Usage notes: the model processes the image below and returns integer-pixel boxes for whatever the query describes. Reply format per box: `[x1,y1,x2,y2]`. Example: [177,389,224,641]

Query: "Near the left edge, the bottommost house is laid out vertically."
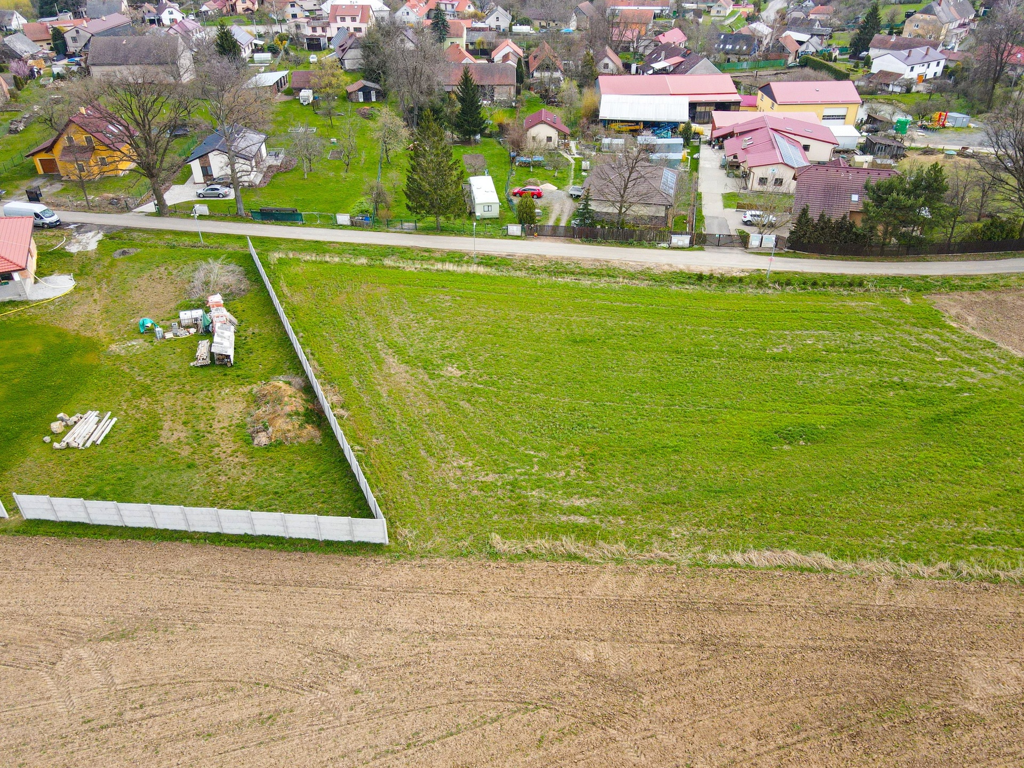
[0,212,43,316]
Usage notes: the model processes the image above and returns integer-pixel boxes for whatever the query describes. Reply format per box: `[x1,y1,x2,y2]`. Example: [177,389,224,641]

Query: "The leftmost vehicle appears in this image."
[3,198,63,223]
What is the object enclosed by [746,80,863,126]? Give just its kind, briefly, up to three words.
building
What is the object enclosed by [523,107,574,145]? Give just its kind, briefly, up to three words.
house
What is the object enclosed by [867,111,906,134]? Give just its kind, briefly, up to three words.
shed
